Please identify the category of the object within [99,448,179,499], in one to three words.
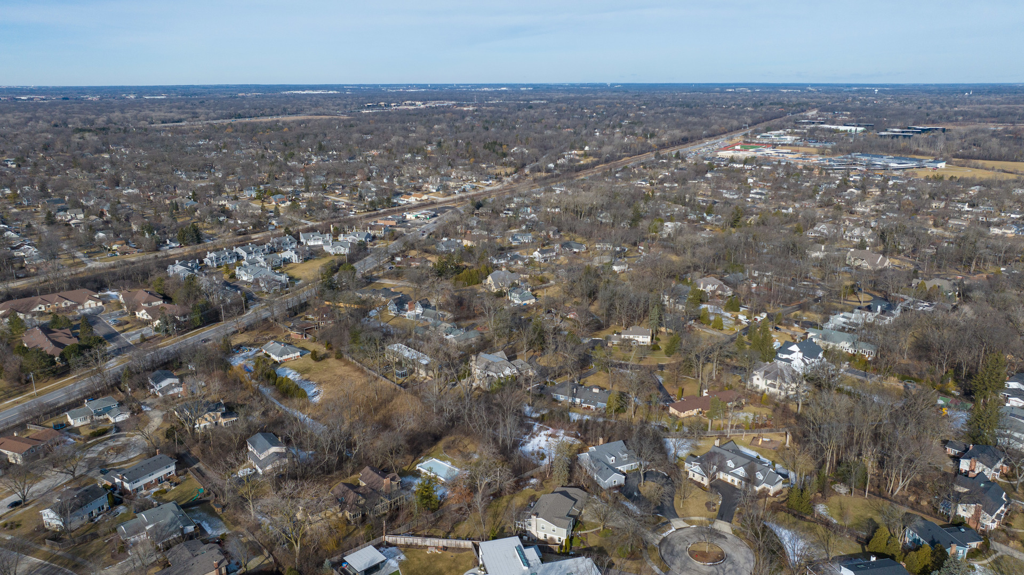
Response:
house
